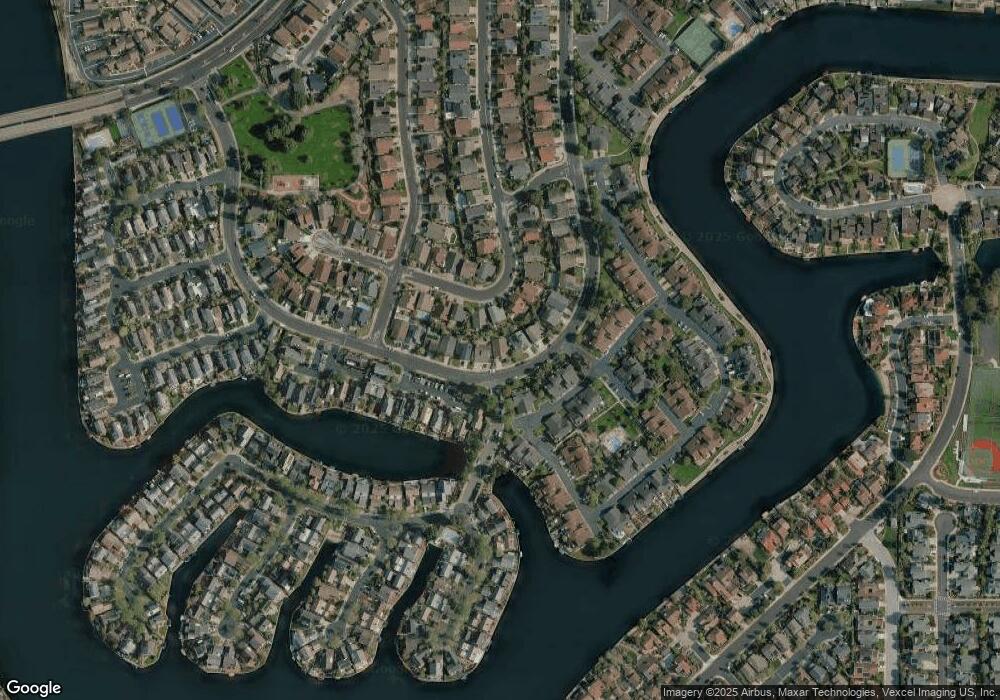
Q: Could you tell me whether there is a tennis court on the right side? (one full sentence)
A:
Yes, looking on the right side, one can make out a tennis court.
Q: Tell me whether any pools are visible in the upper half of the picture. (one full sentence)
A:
Yes, there is a pool in the upper half of the picture.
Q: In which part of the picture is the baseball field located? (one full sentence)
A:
You can find the baseball field in the right area of the picture.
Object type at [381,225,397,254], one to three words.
house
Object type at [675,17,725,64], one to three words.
tennis court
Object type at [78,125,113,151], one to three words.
swimming pool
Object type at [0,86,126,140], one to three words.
bridge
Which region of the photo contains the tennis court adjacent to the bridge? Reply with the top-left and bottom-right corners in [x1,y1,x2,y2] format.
[132,99,185,147]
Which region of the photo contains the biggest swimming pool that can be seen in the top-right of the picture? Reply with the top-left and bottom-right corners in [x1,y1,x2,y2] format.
[719,16,745,39]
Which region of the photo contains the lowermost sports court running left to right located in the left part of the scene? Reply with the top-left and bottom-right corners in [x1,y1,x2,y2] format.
[272,176,319,191]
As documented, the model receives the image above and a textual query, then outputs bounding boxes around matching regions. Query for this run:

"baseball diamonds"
[961,367,1000,480]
